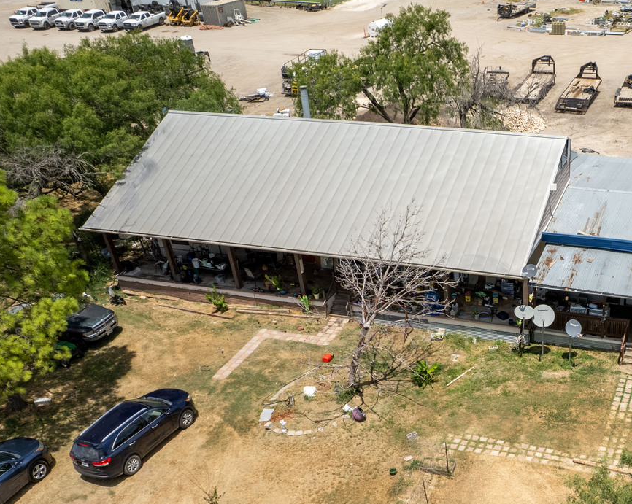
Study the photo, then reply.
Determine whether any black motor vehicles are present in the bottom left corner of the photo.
Yes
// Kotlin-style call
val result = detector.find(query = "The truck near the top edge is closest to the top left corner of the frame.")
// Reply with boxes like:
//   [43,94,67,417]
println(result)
[8,5,45,27]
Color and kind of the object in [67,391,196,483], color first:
black car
